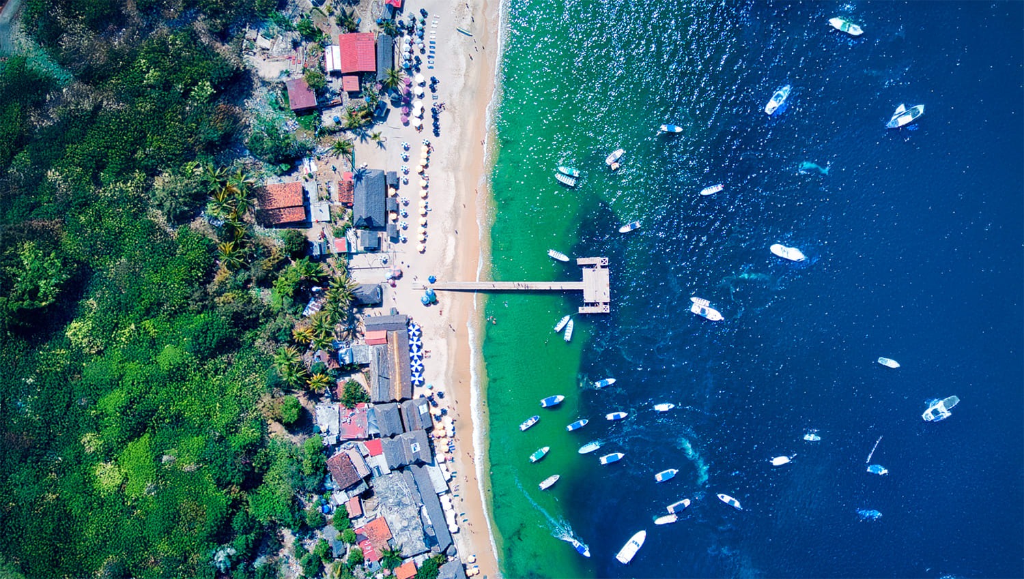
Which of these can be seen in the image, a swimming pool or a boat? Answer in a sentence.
Visible in the photo is a boat.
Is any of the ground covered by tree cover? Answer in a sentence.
Yes, some tree cover is visible.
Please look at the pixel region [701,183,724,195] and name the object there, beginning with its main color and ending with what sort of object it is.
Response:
white boat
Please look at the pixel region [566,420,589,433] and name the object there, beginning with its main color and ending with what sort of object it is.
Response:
blue boat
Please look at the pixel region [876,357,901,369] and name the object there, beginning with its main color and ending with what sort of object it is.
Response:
white boat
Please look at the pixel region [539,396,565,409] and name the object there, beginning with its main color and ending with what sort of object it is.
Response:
blue boat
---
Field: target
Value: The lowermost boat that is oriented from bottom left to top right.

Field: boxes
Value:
[616,530,645,566]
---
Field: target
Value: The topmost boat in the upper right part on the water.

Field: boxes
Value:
[826,16,864,33]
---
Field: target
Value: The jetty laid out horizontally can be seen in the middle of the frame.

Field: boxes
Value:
[412,258,609,313]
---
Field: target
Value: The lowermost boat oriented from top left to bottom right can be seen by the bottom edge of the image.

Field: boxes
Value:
[571,539,590,557]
